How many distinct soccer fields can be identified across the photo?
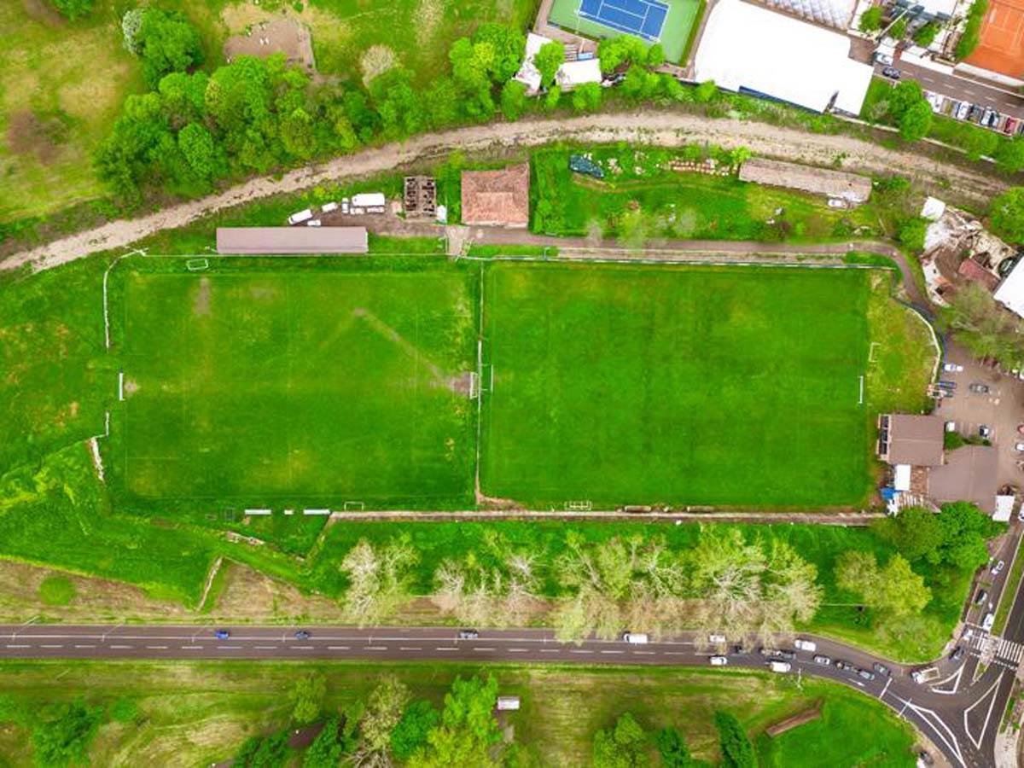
2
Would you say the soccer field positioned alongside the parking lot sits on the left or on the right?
right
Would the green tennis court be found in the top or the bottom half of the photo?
top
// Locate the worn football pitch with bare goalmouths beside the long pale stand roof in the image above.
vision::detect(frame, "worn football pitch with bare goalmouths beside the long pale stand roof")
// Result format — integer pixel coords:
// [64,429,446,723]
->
[125,272,477,501]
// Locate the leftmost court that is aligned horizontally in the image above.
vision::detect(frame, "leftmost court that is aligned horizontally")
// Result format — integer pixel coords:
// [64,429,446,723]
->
[547,0,698,64]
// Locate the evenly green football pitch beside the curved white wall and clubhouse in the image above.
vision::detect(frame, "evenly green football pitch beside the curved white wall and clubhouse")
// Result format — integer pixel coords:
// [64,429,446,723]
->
[488,267,868,507]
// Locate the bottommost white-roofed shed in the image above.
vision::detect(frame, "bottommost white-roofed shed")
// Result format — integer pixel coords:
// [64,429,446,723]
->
[497,694,520,709]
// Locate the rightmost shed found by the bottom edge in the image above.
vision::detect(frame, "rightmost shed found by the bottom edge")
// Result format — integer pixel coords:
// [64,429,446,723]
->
[764,701,823,738]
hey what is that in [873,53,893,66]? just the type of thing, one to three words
vehicle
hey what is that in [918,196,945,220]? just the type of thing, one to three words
shed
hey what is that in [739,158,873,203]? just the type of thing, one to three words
barn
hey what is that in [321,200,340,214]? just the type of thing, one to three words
vehicle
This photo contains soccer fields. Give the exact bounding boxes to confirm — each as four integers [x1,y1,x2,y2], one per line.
[125,272,477,501]
[488,267,868,507]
